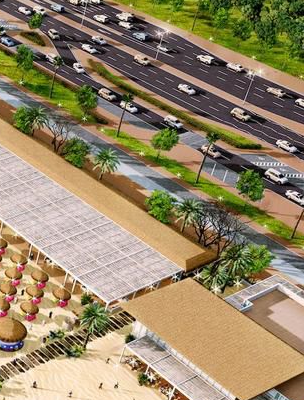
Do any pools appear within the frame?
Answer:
No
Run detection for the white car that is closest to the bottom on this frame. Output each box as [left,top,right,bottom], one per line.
[281,188,304,204]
